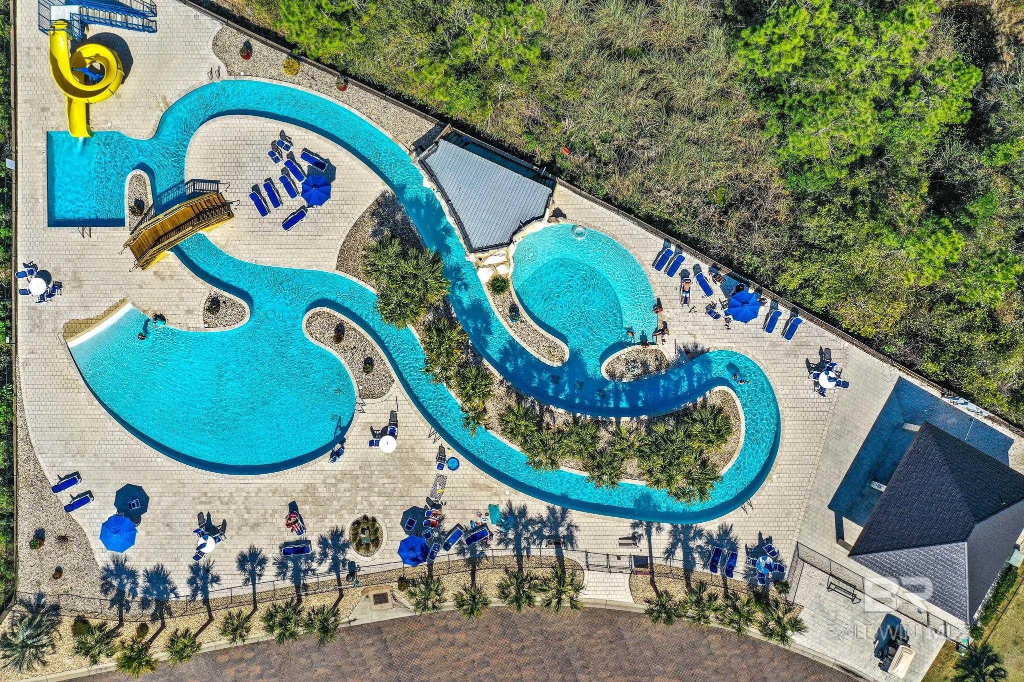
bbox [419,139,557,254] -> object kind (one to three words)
building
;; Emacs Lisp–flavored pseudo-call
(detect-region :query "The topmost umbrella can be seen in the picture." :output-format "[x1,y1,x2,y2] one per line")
[302,176,333,207]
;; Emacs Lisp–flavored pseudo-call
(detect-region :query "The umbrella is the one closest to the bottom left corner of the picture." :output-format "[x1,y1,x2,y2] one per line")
[103,513,142,551]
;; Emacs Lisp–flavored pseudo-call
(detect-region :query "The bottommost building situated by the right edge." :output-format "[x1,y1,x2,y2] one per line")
[842,421,1024,627]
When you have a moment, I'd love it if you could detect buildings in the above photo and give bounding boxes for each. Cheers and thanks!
[419,139,557,254]
[842,421,1024,627]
